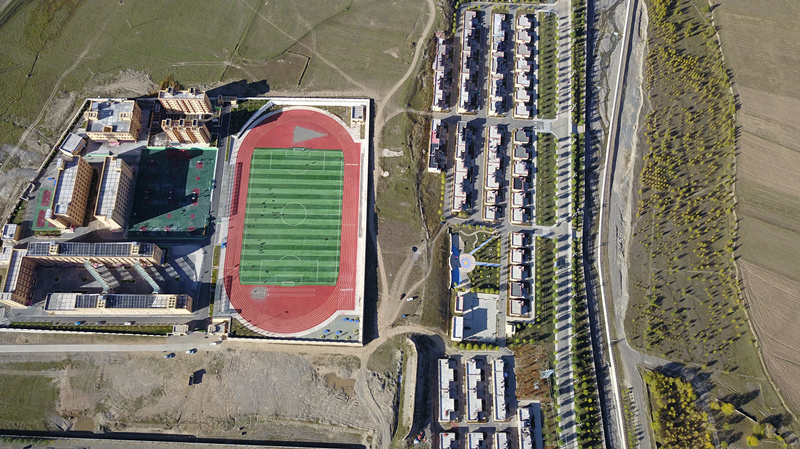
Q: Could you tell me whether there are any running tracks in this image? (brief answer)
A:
Yes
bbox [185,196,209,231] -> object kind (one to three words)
basketball court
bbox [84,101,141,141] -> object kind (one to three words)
building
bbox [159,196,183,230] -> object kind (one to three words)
basketball court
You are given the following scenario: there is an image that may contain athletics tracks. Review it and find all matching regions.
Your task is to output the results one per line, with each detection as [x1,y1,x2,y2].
[223,109,360,333]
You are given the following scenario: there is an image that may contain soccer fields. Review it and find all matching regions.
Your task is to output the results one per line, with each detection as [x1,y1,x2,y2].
[238,147,343,286]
